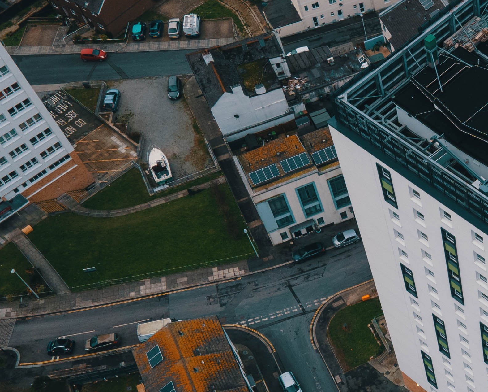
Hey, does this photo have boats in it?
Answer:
Yes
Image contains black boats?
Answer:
No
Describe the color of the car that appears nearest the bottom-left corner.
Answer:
black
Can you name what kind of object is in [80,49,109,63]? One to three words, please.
car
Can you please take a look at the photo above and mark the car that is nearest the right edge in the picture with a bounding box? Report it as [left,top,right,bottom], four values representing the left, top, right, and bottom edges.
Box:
[331,231,362,251]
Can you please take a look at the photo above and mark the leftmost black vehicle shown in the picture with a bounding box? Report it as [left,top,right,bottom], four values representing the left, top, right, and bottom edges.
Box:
[44,337,80,359]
